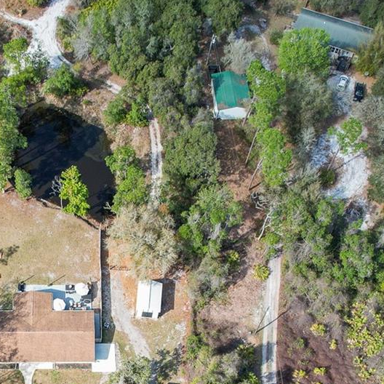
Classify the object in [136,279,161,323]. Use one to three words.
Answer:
shed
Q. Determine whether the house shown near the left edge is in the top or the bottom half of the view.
bottom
